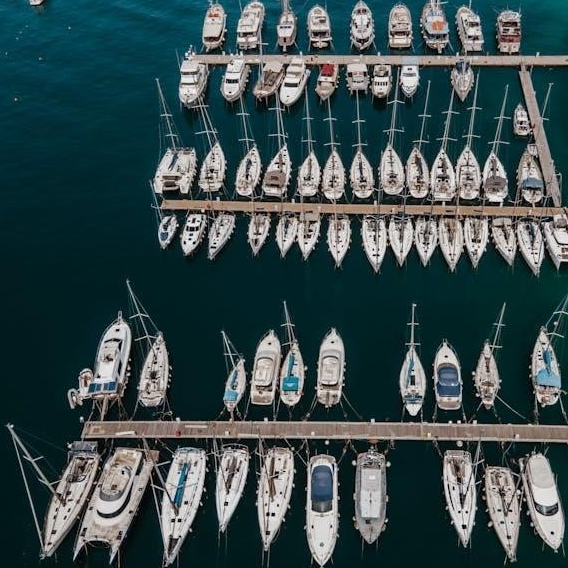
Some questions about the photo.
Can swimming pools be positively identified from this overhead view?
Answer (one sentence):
No, I can't see a single swimming pool in this photo.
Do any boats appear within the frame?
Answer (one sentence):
Yes, there's a boat down there.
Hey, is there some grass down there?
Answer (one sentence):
No, there's no grass in this view.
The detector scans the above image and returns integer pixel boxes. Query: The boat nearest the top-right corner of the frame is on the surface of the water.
[495,10,530,54]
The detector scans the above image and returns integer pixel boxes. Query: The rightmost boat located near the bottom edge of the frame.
[511,447,565,564]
